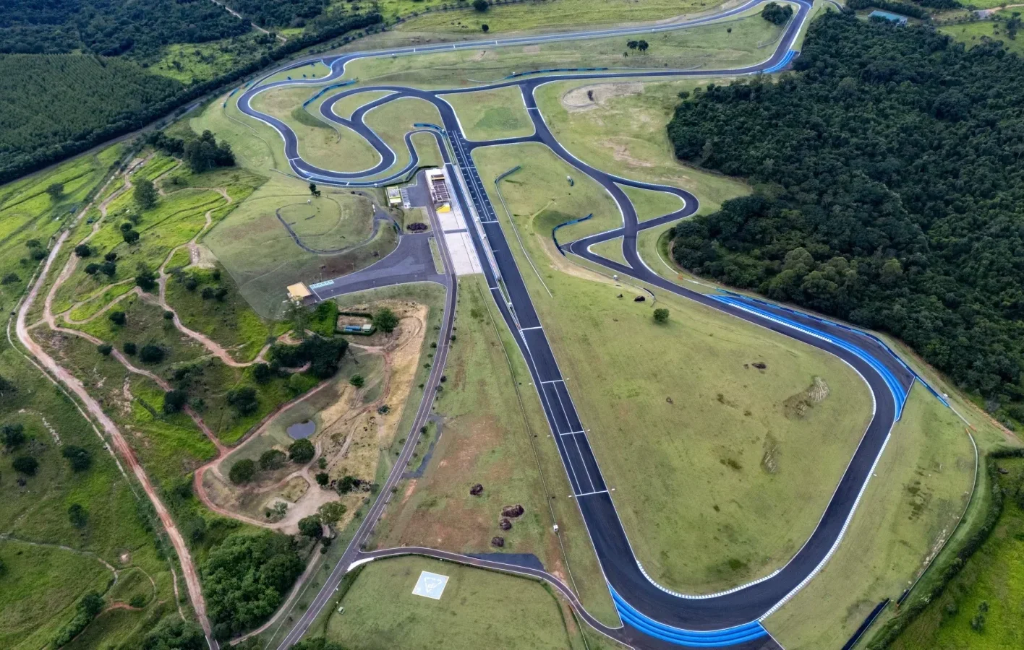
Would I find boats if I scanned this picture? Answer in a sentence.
No, the photo shows no boat.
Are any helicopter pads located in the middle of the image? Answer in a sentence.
No, looking in the middle of the image, there is no helicopter pad.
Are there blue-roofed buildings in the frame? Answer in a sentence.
Yes, the photo shows a blue-roofed building.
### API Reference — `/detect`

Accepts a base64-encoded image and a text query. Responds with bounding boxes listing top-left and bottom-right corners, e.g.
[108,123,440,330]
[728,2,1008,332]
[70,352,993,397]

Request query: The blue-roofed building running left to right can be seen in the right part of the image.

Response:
[867,11,906,27]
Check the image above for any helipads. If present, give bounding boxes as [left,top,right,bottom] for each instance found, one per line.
[412,571,449,600]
